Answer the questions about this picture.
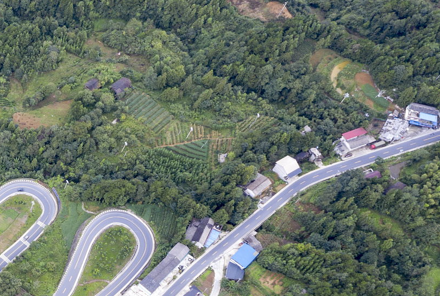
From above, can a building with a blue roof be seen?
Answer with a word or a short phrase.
Yes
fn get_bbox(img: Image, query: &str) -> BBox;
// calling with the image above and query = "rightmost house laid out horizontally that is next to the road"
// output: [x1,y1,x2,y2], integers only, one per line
[402,111,438,133]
